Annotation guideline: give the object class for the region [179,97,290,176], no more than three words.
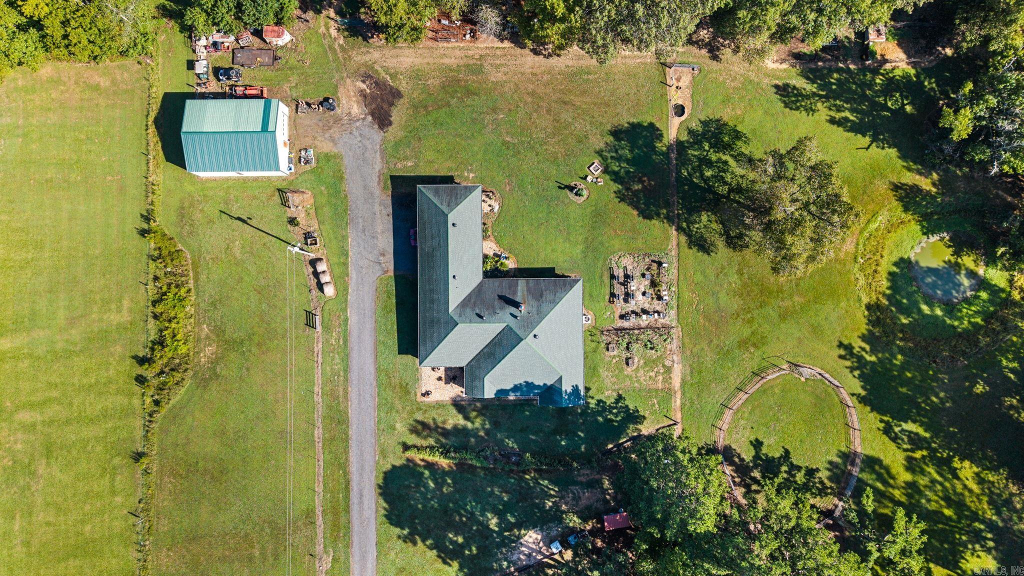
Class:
barn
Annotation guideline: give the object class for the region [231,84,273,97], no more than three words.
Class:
vehicle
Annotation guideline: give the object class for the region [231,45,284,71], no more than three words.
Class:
trailer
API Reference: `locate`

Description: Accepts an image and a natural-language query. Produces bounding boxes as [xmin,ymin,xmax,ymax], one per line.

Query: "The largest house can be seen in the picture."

[417,184,585,405]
